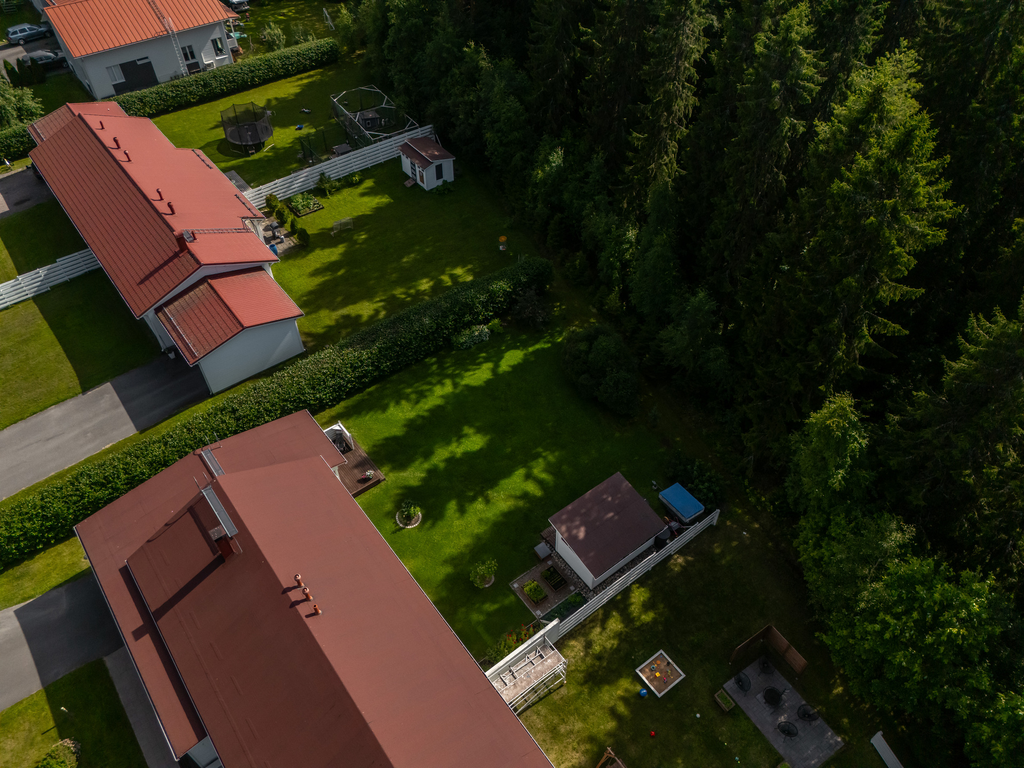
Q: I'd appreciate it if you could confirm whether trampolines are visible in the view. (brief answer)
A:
Yes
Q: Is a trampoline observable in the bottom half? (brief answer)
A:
No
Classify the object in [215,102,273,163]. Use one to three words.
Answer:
trampoline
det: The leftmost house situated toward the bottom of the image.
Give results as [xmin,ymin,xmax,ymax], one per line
[74,409,559,768]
